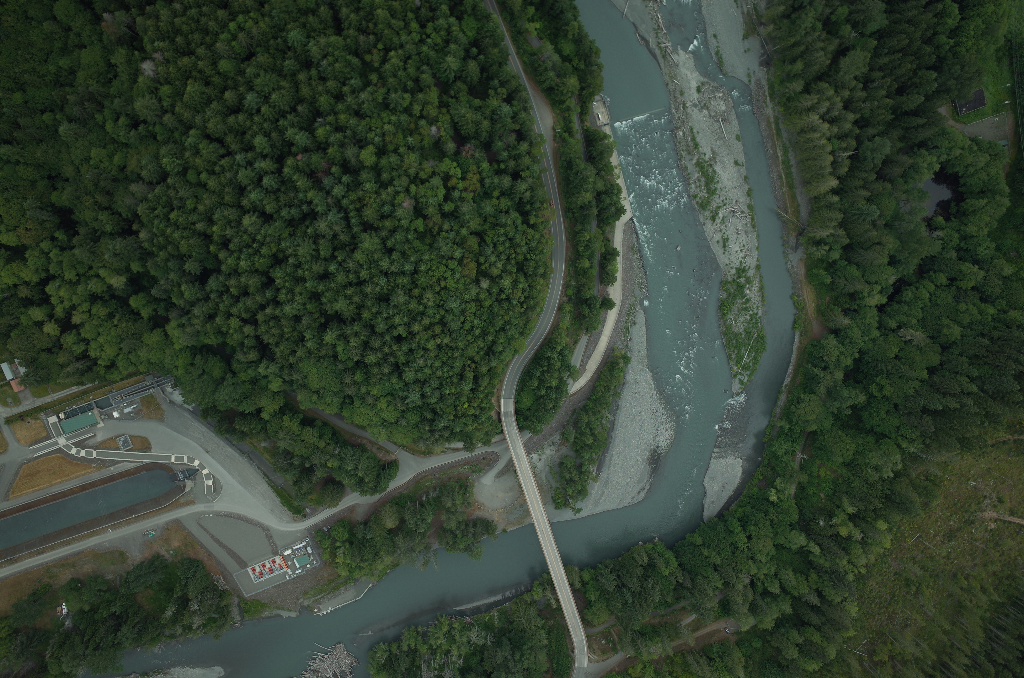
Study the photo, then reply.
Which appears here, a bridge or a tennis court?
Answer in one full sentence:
The image shows a bridge.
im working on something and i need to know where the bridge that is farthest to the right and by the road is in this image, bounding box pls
[500,399,589,668]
